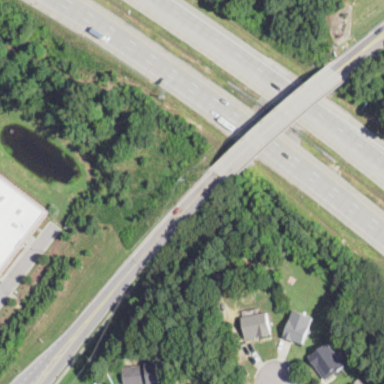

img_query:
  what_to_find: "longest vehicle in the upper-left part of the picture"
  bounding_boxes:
[86,25,111,44]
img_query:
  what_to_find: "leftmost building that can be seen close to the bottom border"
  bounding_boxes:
[122,362,144,384]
